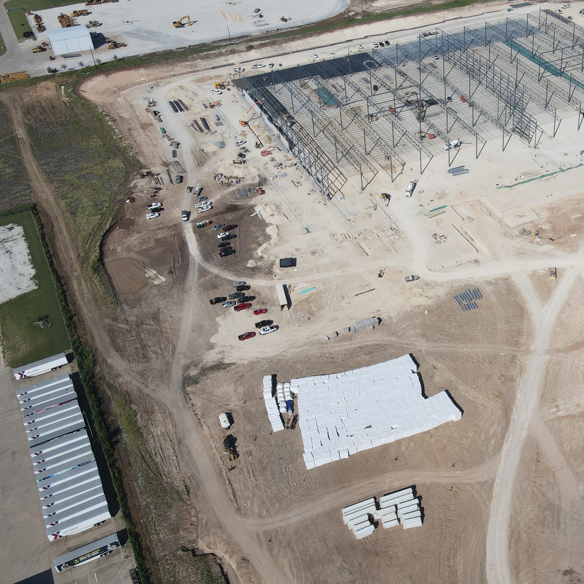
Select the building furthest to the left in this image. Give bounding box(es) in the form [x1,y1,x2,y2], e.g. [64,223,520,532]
[48,24,95,55]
